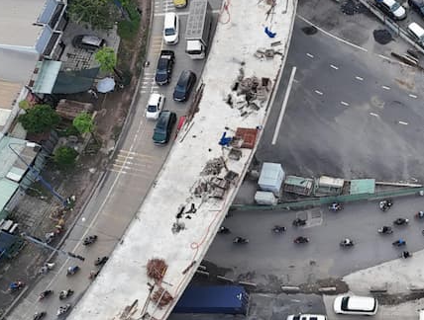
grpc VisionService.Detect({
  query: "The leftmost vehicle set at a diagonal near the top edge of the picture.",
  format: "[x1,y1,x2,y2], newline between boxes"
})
[372,0,408,24]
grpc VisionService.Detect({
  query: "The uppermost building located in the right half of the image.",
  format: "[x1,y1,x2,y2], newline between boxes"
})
[258,162,288,197]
